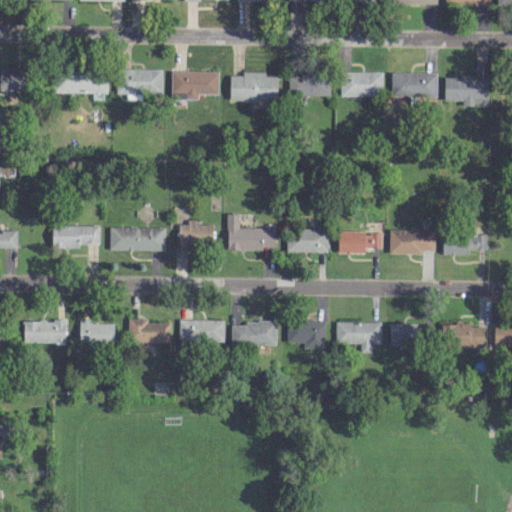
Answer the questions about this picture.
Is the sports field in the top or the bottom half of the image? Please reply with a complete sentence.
The sports field sits in the bottom half of the picture.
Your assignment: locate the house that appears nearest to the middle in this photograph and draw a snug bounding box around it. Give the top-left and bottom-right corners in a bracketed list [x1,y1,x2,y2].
[227,214,280,251]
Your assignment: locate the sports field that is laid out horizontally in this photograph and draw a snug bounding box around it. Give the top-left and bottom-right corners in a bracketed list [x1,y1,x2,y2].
[56,412,512,512]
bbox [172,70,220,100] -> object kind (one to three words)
house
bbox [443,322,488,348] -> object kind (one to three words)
house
